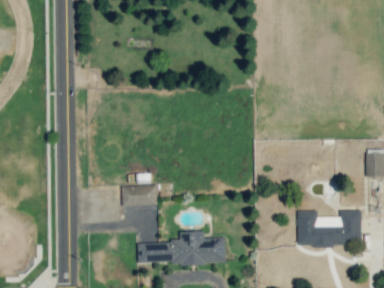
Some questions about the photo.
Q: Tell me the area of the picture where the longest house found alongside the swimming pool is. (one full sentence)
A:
The longest house found alongside the swimming pool appears toward the bottom of the photo.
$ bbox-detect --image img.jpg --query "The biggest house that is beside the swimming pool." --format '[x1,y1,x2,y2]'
[137,231,225,266]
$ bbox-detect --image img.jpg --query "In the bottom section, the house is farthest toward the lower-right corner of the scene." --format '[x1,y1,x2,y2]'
[296,210,361,248]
